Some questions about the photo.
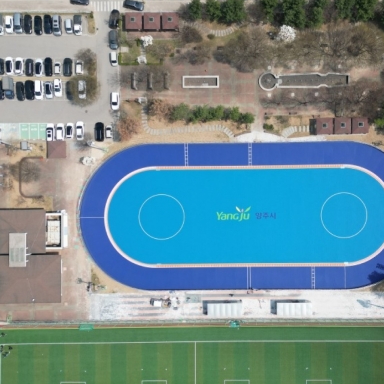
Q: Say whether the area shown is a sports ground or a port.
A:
sports ground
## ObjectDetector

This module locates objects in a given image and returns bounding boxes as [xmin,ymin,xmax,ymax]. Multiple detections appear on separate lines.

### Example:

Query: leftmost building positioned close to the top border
[125,12,143,32]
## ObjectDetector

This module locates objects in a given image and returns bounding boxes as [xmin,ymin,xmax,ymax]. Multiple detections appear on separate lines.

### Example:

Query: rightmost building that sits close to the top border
[162,12,179,32]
